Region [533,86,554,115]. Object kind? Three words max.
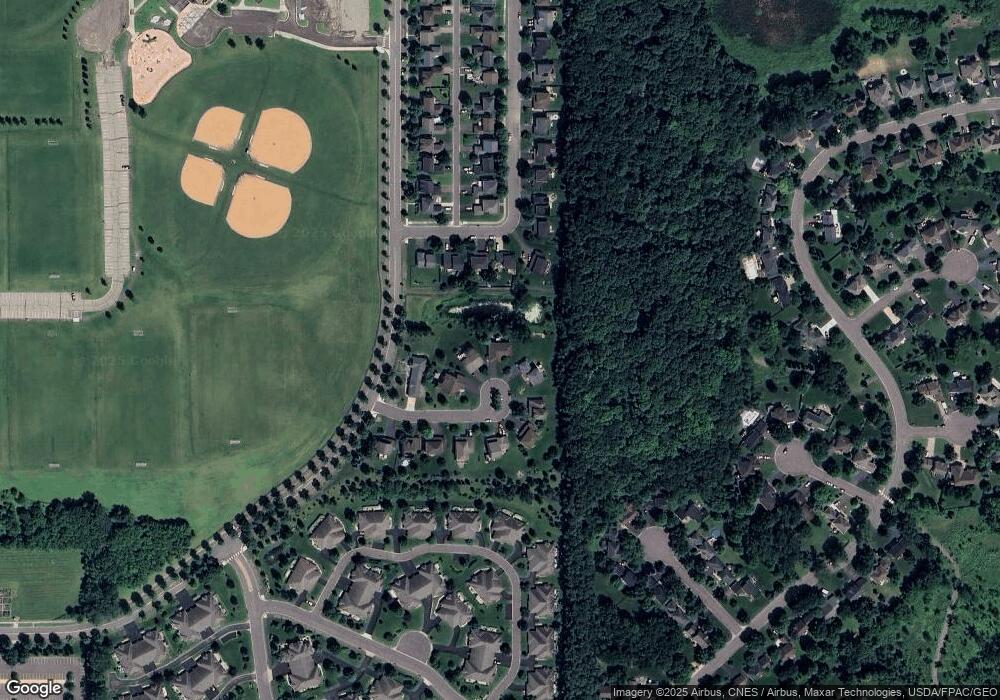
house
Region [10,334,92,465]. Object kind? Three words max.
soccer field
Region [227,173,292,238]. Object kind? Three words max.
baseball field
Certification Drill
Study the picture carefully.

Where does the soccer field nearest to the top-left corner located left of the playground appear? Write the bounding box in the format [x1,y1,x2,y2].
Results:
[0,62,70,114]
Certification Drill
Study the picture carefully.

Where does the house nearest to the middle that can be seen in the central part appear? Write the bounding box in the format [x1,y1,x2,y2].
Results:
[489,339,512,364]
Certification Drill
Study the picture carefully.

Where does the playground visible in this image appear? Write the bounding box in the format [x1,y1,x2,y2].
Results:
[128,29,192,104]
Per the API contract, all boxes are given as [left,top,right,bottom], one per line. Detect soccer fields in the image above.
[9,144,96,274]
[0,62,70,114]
[100,334,176,465]
[10,334,92,465]
[192,312,280,444]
